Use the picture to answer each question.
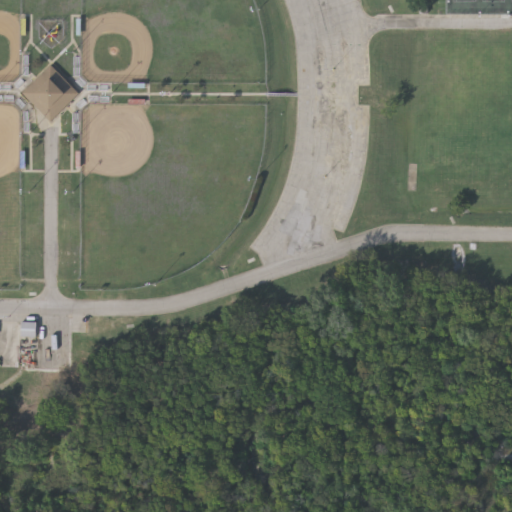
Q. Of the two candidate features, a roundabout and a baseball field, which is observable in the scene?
baseball field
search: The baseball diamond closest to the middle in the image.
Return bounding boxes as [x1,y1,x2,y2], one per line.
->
[80,104,266,290]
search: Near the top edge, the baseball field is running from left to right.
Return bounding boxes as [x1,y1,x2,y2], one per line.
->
[80,0,266,83]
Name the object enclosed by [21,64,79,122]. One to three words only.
building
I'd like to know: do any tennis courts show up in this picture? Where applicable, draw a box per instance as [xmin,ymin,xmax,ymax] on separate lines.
[448,0,479,14]
[479,0,512,14]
